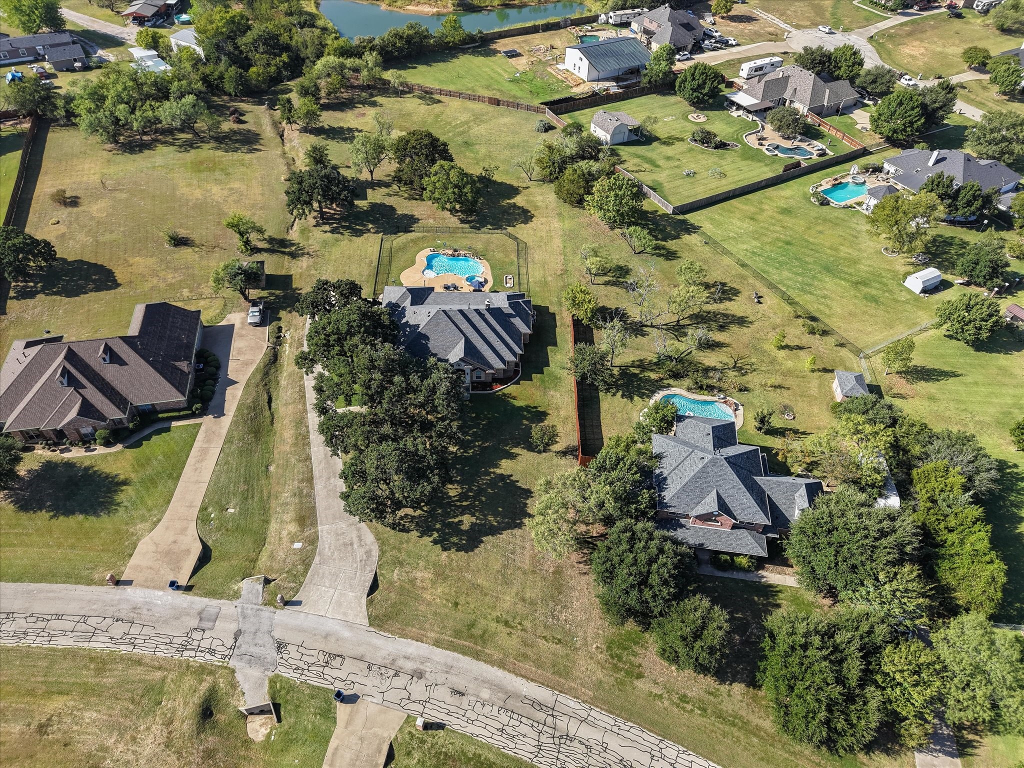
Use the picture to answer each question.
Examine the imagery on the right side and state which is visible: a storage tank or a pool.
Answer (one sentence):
Looking on the right side, you will find a pool.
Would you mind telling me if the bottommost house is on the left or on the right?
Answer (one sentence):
The bottommost house appears in the right half of the scene.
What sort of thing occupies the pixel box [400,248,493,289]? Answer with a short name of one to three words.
swimming pool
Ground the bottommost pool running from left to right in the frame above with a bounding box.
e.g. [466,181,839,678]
[640,389,744,436]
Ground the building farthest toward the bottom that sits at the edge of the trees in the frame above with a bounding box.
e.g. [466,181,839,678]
[650,414,823,570]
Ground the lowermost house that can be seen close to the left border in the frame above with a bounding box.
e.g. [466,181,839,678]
[0,302,204,443]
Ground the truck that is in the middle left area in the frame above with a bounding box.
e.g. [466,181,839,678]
[245,297,267,329]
